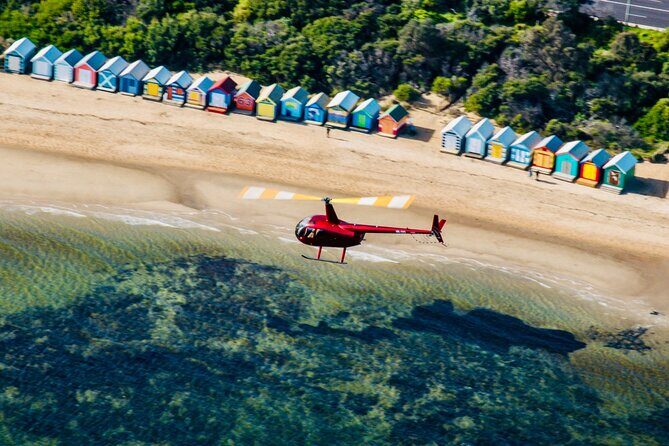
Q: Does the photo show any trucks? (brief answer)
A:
No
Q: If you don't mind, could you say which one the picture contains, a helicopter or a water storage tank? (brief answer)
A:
helicopter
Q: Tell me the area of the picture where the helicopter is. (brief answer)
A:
center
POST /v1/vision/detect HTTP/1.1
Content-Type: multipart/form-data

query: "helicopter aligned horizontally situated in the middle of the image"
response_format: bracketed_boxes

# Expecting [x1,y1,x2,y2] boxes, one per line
[245,191,447,262]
